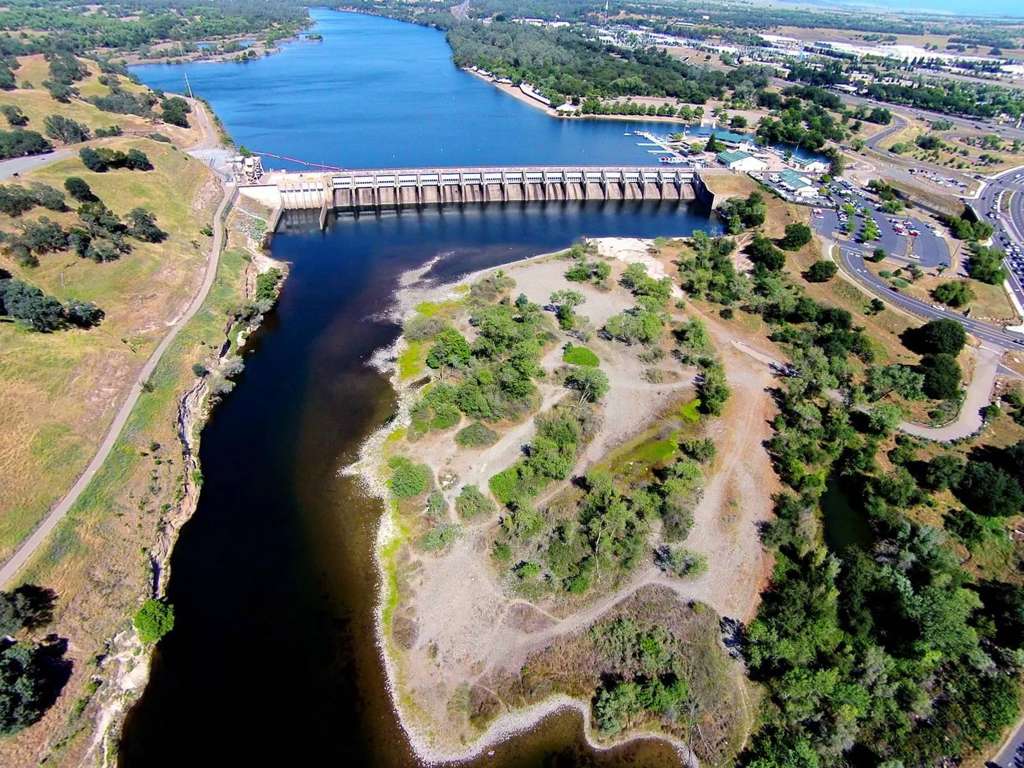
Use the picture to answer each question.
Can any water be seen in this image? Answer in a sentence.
Yes, there's water in this view.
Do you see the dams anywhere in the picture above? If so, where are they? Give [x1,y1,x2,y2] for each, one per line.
[257,164,704,208]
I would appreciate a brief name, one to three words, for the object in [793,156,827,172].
building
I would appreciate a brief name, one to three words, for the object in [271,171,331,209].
building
